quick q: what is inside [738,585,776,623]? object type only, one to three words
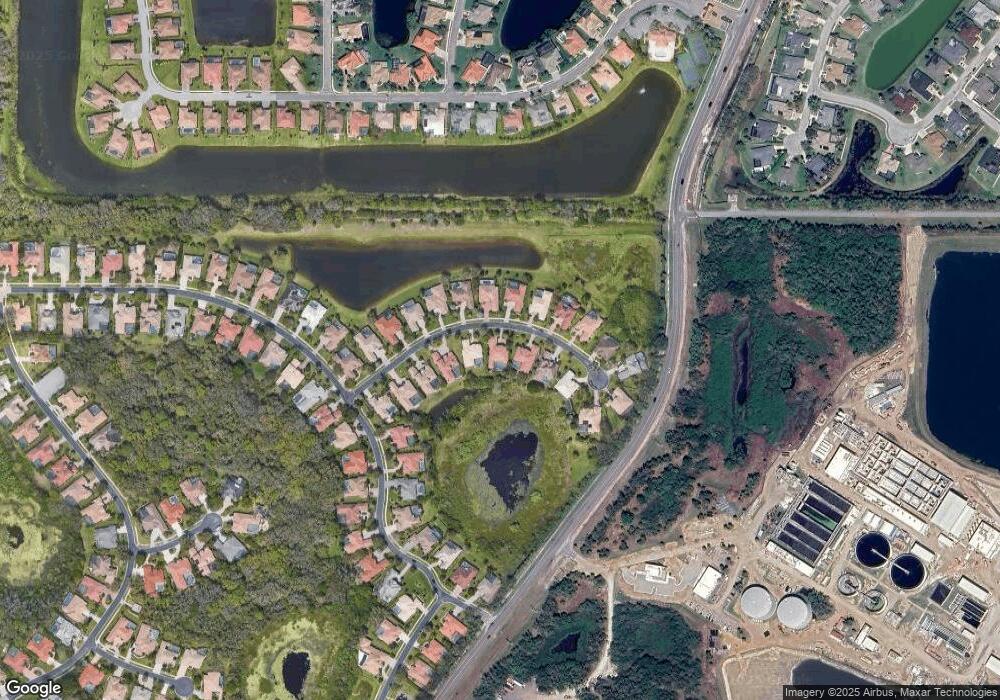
storage tank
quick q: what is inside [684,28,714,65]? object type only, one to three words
tennis court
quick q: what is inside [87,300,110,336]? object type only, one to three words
house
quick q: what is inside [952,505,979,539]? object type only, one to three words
building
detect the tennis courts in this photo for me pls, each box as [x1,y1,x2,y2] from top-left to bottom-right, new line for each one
[684,28,714,65]
[674,55,703,92]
